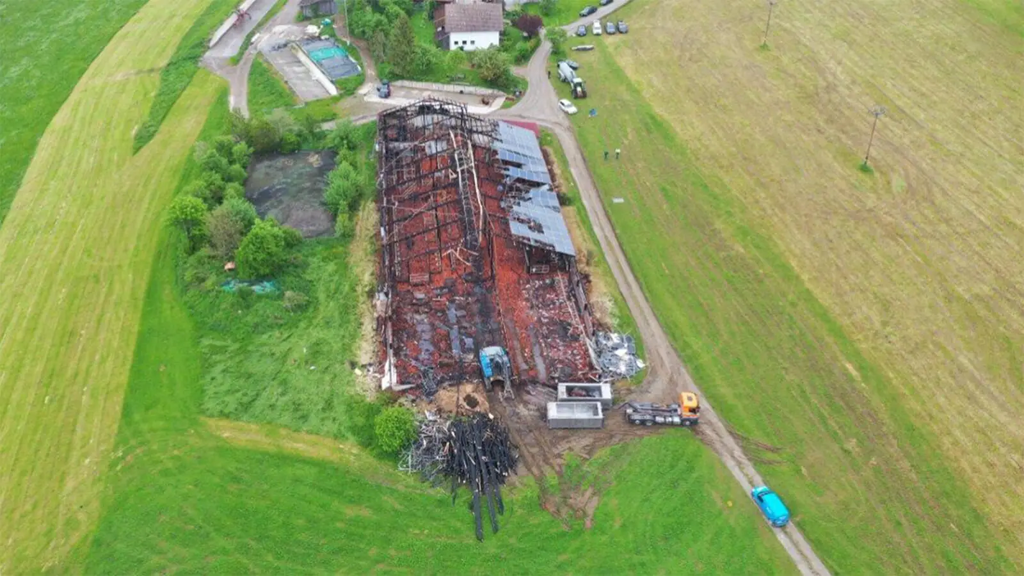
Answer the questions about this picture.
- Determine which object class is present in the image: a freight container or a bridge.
freight container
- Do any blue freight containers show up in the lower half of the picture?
No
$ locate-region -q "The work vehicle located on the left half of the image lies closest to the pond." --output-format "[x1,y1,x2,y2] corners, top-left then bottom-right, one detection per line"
[377,79,390,100]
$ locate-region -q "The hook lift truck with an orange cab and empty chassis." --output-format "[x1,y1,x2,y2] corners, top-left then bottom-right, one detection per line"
[618,393,703,425]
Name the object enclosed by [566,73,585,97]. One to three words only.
work vehicle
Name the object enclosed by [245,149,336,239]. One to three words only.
pond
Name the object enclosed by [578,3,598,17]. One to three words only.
car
